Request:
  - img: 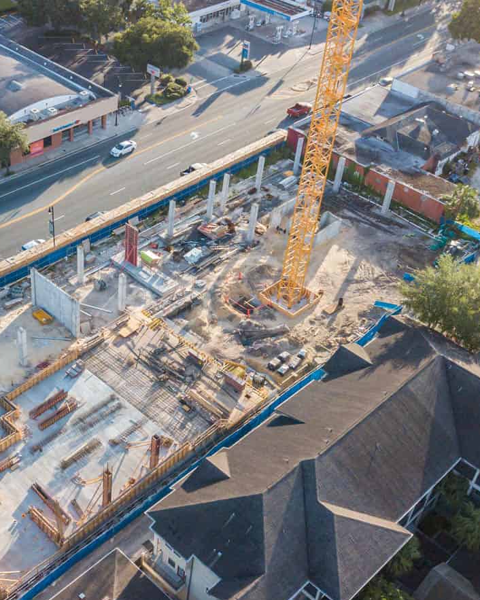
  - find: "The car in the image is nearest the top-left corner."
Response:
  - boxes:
[108,140,138,157]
